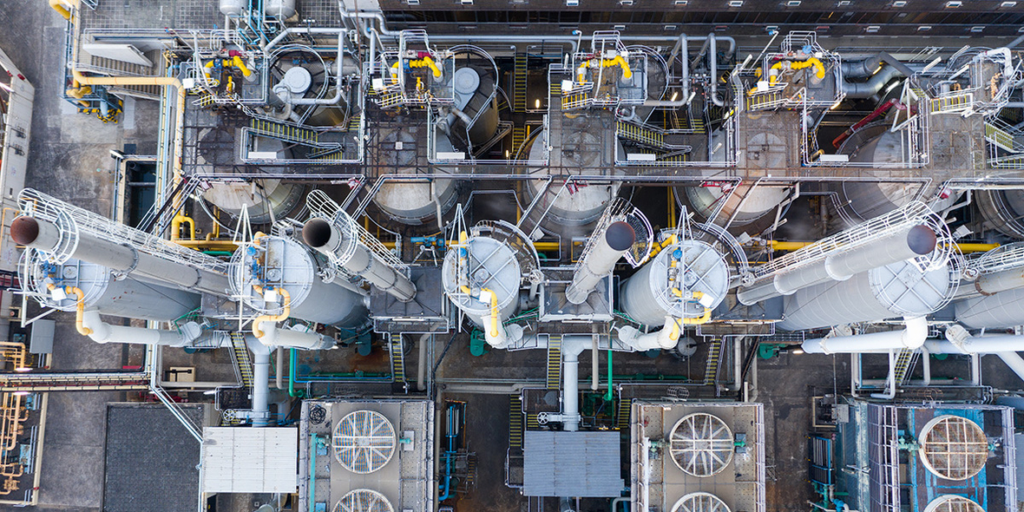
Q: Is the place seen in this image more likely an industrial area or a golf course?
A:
industrial area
